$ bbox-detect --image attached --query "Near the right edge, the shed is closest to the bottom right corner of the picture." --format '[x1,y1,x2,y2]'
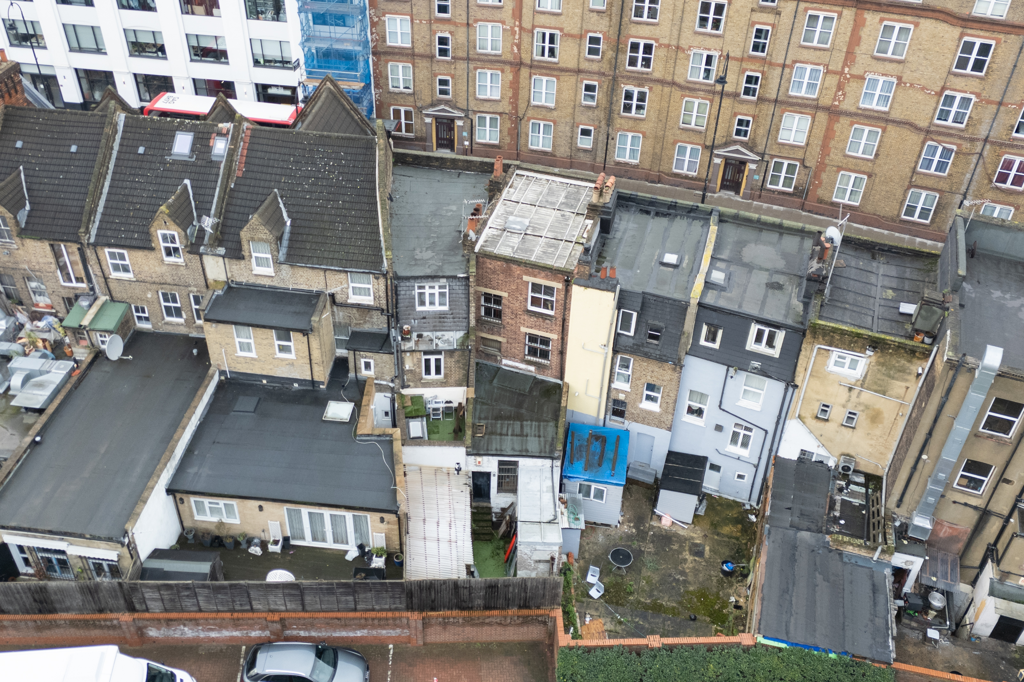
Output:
[967,573,1024,648]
